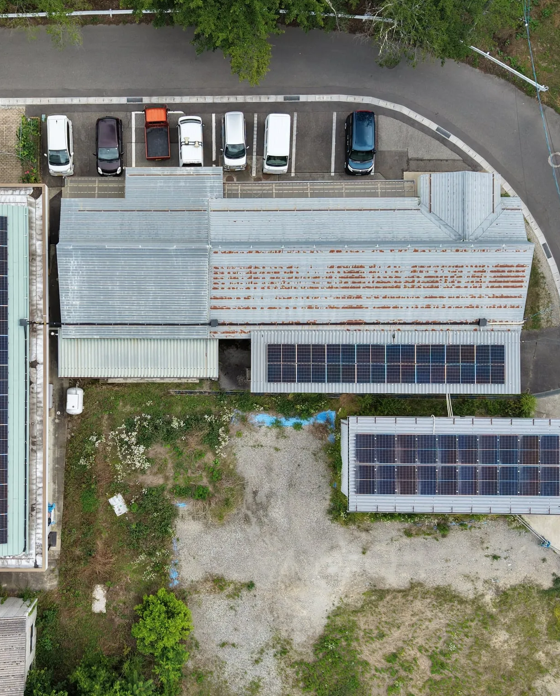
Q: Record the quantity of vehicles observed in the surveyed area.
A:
seven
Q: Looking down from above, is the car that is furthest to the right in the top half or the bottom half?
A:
top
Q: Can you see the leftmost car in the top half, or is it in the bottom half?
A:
top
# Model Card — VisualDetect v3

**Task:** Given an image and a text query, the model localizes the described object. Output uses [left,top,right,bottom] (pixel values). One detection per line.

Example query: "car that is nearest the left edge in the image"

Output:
[45,119,75,177]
